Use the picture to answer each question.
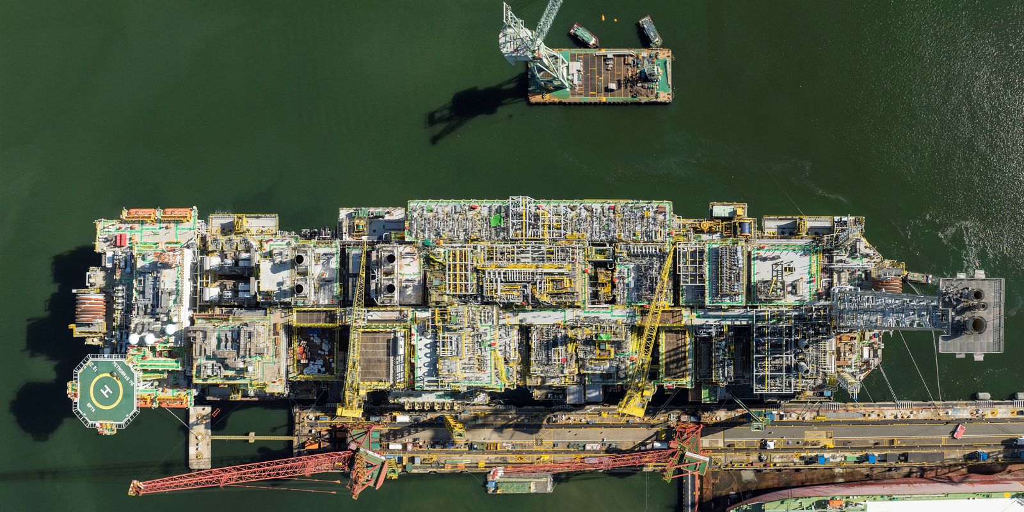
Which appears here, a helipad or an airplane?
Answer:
helipad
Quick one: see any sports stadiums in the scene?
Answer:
No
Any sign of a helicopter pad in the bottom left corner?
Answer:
Yes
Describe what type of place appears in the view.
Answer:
port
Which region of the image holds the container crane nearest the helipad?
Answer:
bottom left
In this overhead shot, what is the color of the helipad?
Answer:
green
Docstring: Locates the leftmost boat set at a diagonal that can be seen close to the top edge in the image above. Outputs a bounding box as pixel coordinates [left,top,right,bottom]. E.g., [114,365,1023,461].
[566,21,598,48]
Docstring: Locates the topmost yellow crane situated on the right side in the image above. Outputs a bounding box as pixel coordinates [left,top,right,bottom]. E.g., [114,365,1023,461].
[622,243,676,420]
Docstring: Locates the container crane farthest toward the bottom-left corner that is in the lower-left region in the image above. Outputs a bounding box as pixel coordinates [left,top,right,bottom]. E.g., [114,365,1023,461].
[127,426,390,500]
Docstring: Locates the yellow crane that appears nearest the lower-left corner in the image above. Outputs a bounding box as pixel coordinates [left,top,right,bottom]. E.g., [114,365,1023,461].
[339,239,371,415]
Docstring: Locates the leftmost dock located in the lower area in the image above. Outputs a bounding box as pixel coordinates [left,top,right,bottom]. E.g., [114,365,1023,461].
[188,406,214,470]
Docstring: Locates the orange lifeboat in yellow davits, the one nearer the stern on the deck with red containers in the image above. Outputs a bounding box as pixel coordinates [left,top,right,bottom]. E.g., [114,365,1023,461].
[124,208,156,225]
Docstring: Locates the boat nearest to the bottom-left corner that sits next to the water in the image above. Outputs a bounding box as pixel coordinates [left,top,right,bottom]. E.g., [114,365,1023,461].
[137,390,159,407]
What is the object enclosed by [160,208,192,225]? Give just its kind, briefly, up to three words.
boat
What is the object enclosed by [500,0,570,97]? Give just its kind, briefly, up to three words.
crane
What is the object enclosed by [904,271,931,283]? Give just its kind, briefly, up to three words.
boat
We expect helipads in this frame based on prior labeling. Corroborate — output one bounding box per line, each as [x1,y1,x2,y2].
[67,354,156,434]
